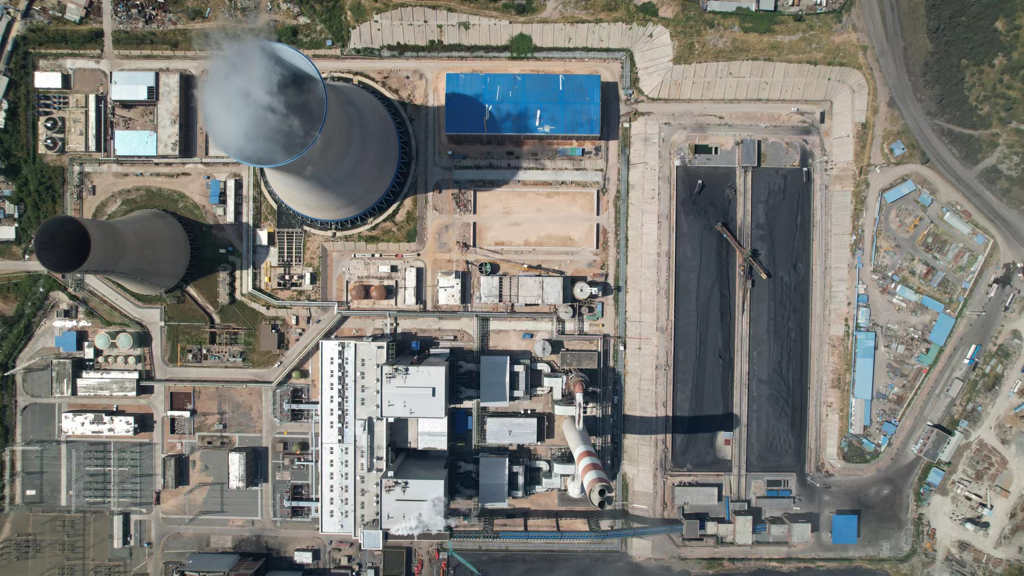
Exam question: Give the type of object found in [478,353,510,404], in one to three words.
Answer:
house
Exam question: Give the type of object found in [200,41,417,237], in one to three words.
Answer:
cooling tower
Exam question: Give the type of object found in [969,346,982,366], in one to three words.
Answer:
vehicle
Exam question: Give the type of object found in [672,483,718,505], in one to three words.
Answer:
building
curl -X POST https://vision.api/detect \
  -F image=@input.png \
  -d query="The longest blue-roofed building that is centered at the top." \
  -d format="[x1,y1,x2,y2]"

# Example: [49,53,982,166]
[445,74,601,140]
